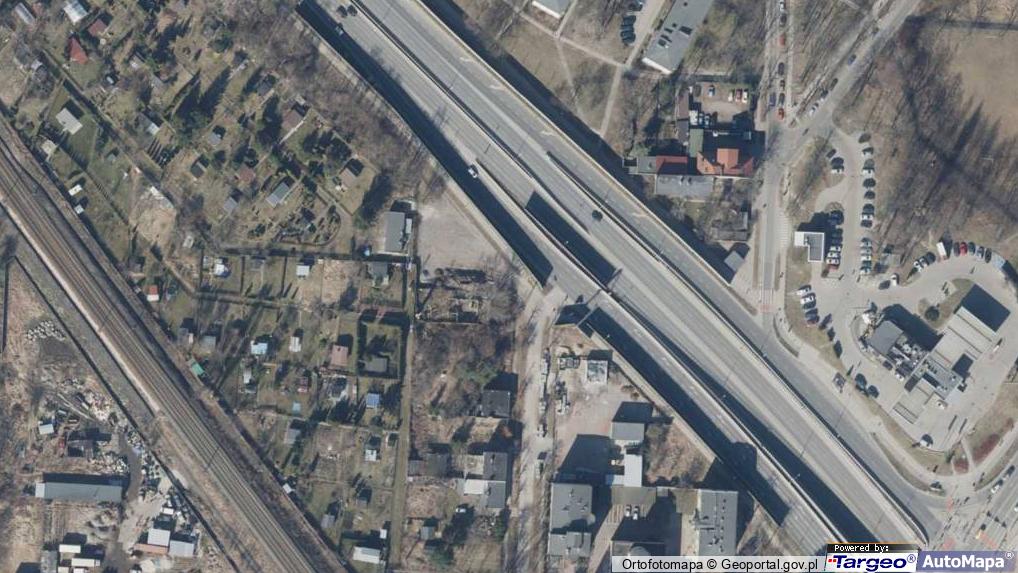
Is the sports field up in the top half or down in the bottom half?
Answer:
top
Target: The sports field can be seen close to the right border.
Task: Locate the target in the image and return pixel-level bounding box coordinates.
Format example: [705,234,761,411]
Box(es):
[947,32,1018,146]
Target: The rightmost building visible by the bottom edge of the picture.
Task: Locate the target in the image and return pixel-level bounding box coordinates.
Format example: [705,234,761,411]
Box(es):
[694,491,738,573]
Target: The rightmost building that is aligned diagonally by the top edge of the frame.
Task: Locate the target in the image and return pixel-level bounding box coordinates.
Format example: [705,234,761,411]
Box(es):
[642,0,714,74]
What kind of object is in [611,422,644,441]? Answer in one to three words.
building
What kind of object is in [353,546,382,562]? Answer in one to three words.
house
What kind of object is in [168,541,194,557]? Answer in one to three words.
shed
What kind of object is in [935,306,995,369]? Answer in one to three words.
building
